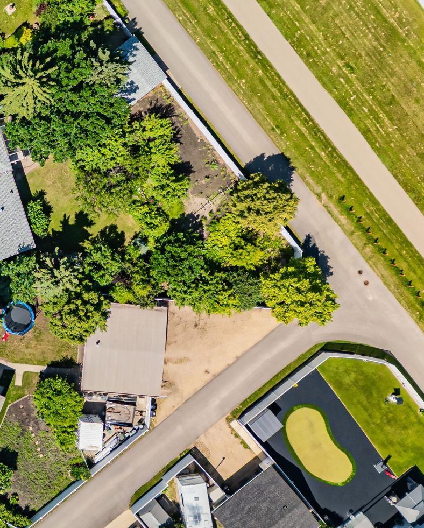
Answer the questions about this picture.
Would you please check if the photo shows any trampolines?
Yes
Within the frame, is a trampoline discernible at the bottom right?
No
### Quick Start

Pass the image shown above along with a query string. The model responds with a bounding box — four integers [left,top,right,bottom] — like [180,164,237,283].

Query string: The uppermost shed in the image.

[100,34,167,100]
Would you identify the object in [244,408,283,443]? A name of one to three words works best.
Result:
shed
